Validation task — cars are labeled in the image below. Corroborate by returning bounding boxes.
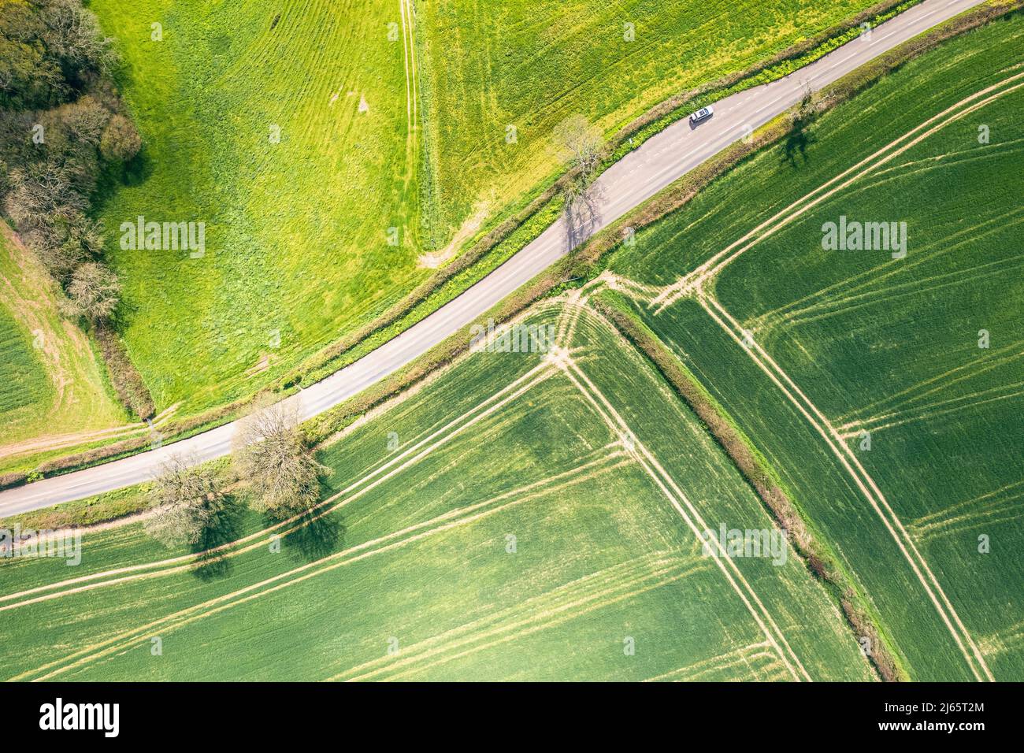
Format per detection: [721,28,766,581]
[690,107,714,125]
